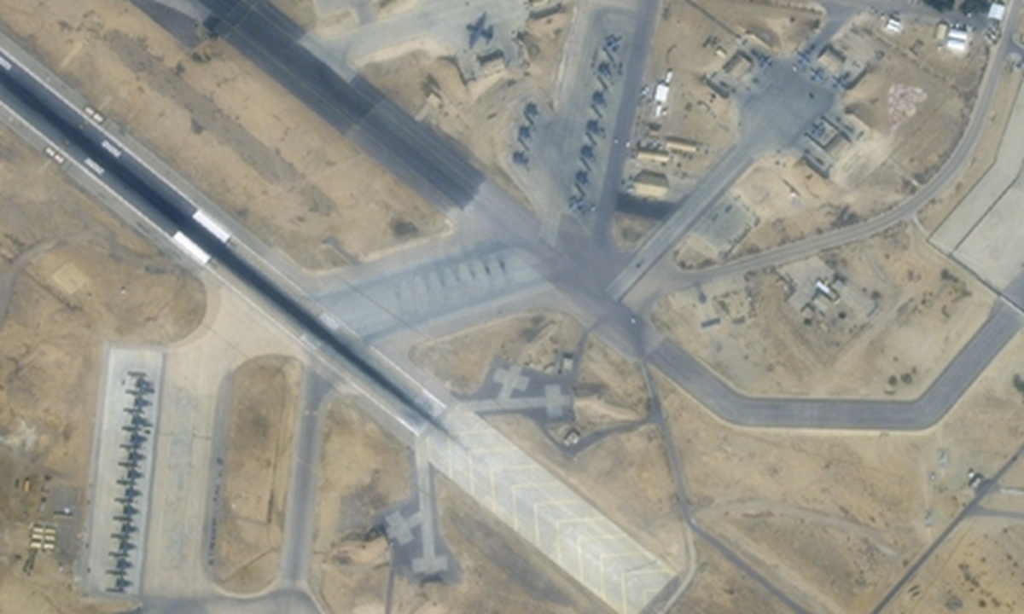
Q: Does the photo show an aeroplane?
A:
Yes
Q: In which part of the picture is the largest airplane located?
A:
top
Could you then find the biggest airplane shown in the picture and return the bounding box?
[466,11,493,47]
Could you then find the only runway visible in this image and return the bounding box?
[0,47,445,437]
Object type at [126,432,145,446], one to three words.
airplane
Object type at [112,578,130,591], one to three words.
airplane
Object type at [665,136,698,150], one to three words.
building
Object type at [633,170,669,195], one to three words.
hangar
